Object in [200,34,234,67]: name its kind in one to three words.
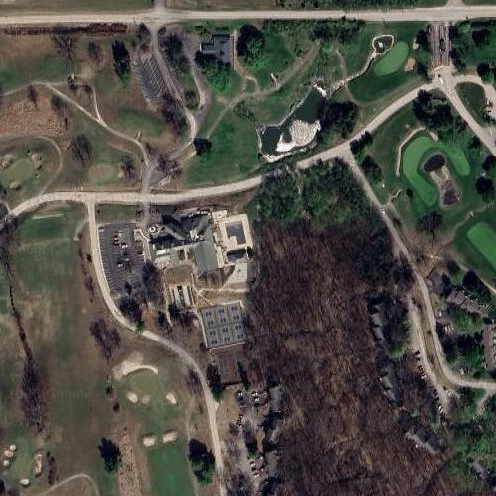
house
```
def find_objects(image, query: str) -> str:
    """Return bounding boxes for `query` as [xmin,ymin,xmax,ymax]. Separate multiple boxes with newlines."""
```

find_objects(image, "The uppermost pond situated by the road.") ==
[257,86,326,161]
